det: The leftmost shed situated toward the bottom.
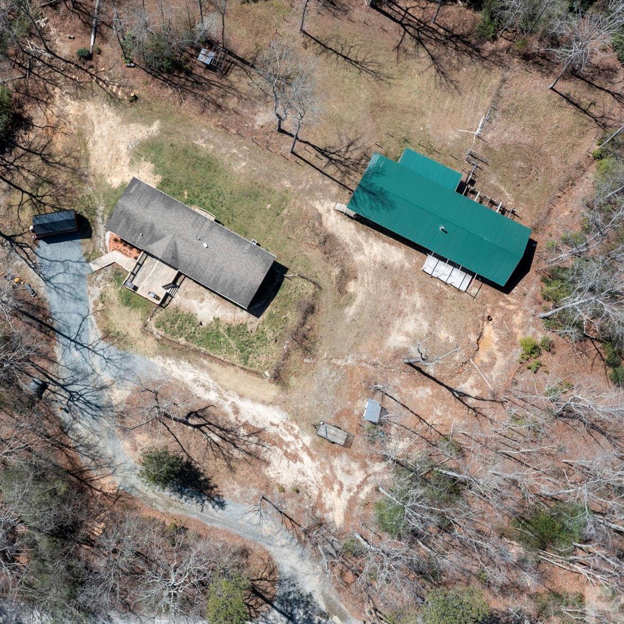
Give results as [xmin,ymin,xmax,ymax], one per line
[361,399,381,423]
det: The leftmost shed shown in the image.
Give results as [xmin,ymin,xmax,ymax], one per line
[33,209,79,237]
